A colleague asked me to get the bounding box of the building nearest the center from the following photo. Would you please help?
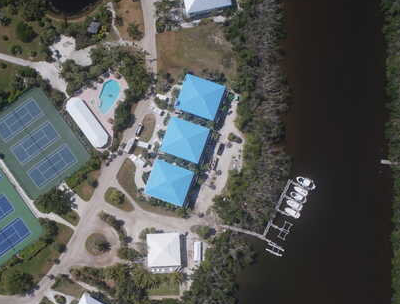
[160,117,211,165]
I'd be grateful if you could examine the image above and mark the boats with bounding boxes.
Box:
[286,208,303,218]
[294,187,311,197]
[291,193,308,203]
[288,200,305,210]
[297,178,318,189]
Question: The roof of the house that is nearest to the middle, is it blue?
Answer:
Yes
